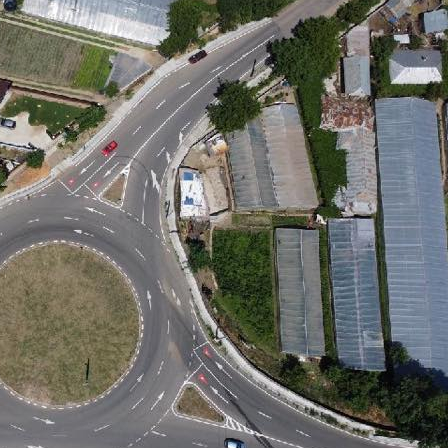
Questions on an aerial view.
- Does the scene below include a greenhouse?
Yes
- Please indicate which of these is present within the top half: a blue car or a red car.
red car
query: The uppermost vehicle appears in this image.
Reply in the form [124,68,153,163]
[187,48,208,65]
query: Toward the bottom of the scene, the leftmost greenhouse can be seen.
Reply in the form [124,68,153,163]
[273,228,325,357]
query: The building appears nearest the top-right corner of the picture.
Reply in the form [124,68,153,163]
[417,7,448,35]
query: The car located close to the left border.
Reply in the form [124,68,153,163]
[0,117,18,129]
